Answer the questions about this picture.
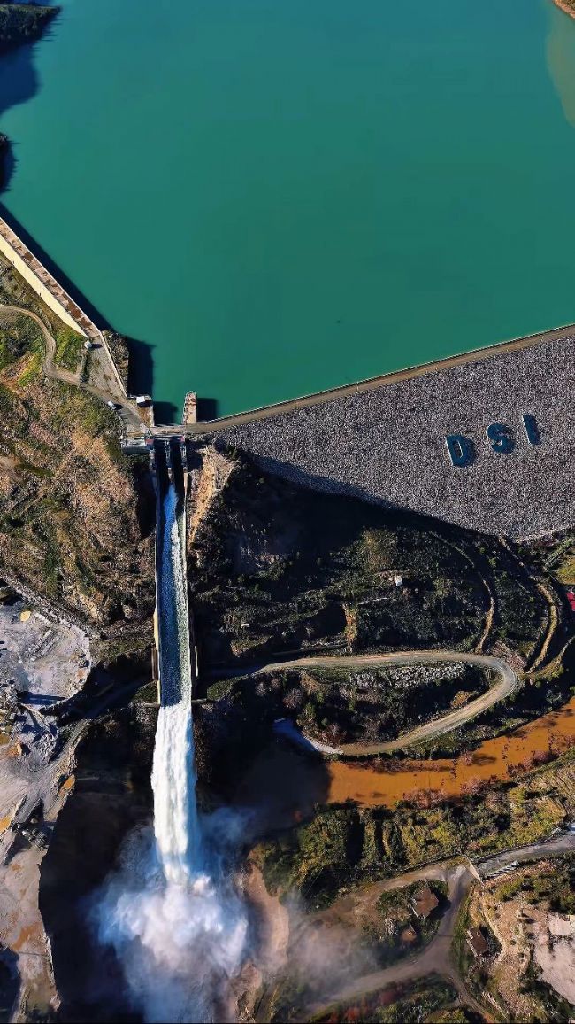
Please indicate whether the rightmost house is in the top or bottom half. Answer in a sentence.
The bottom half of the photo is where the rightmost house is.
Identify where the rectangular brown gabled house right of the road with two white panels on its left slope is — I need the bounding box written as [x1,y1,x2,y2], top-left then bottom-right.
[464,925,495,961]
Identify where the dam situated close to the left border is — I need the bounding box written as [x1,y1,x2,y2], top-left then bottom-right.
[0,219,104,339]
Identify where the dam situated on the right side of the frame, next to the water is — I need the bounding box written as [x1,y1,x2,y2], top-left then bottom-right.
[193,326,575,541]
